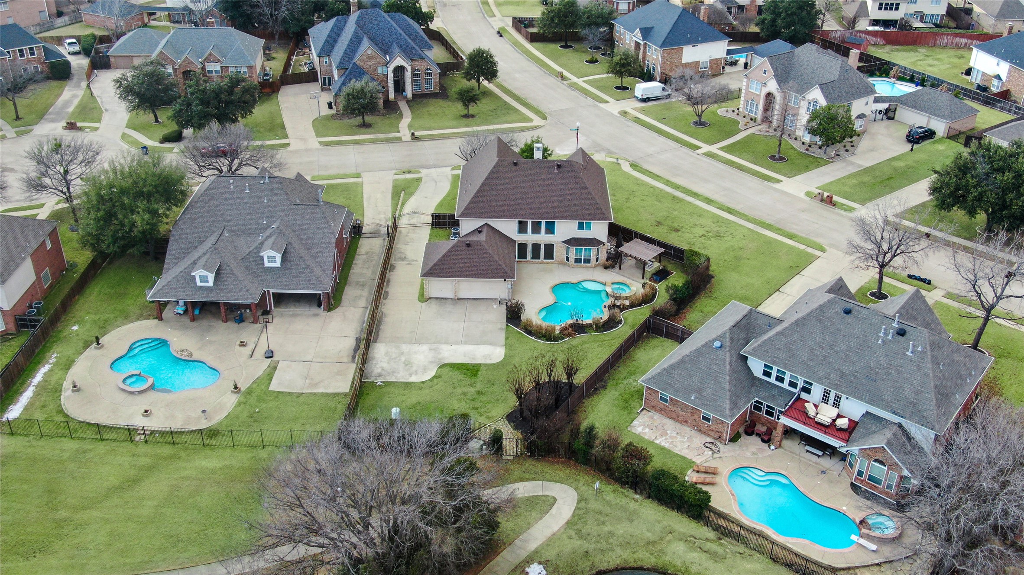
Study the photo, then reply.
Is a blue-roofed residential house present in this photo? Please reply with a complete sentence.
Yes, there's a blue-roofed residential house down there.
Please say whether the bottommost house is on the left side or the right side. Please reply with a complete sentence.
The bottommost house is on the right side of the image.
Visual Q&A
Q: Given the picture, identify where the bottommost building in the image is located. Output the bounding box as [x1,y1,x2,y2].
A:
[637,277,987,500]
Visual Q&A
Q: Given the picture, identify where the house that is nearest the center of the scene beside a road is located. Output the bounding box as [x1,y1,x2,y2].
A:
[417,136,613,300]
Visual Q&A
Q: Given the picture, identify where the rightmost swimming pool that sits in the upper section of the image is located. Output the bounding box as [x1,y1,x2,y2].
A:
[869,79,923,95]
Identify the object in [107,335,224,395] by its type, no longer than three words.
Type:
swimming pool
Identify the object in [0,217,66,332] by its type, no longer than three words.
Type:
house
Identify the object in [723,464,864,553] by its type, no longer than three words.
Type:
swimming pool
